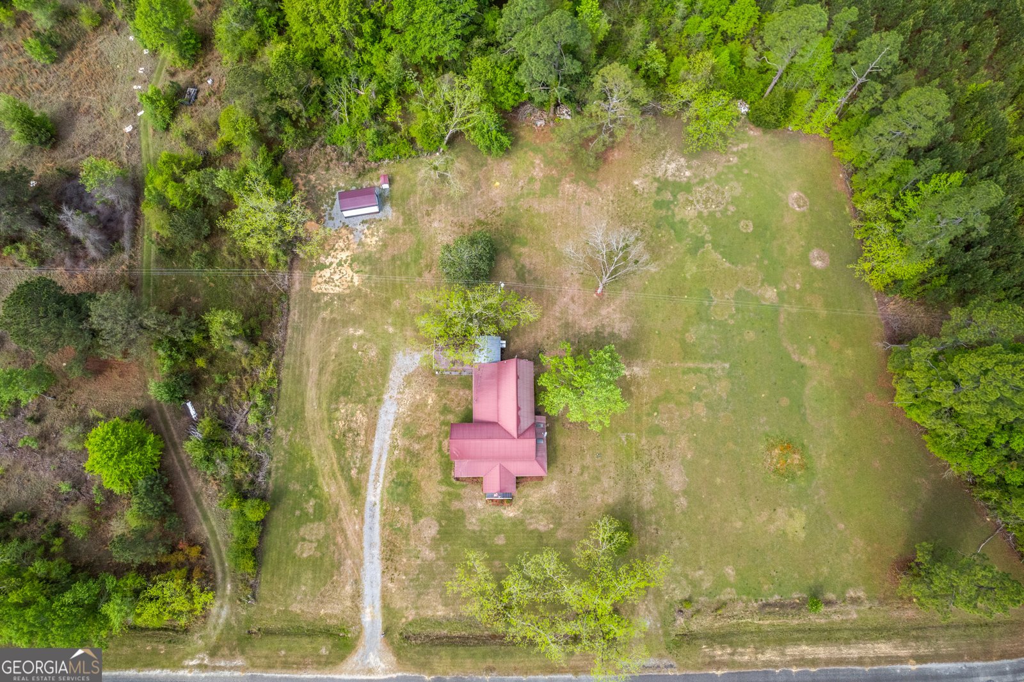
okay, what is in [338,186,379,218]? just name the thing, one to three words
shed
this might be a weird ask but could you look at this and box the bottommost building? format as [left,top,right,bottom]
[449,354,547,493]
